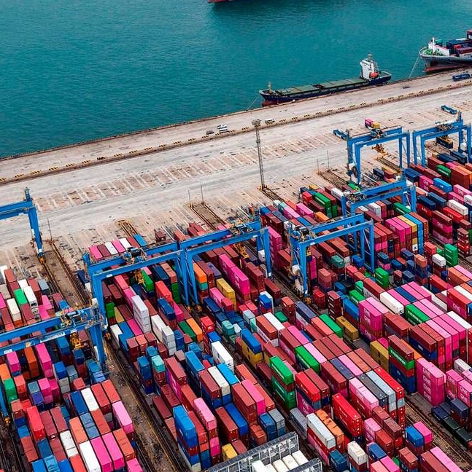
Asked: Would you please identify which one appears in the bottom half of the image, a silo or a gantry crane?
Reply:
gantry crane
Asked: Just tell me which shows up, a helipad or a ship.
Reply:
ship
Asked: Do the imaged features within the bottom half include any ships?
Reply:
No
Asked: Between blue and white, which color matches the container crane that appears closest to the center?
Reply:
blue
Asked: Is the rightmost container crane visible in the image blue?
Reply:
Yes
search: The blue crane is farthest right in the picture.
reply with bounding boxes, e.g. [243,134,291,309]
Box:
[406,114,472,175]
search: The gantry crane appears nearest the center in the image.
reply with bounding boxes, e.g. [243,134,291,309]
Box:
[173,215,279,323]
